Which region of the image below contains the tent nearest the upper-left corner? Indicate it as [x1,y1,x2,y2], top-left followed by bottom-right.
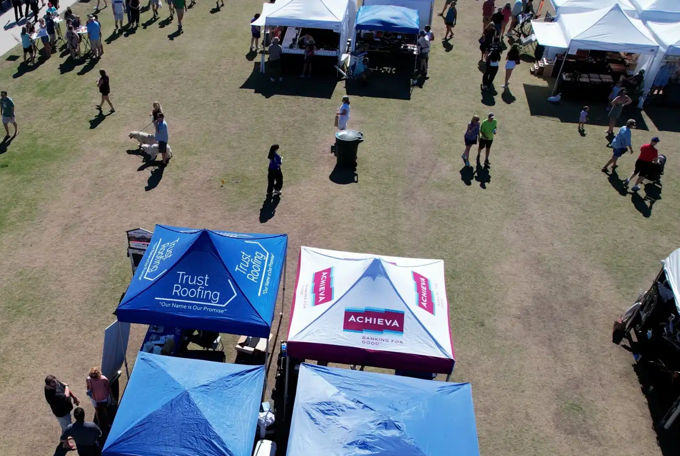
[250,0,348,51]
